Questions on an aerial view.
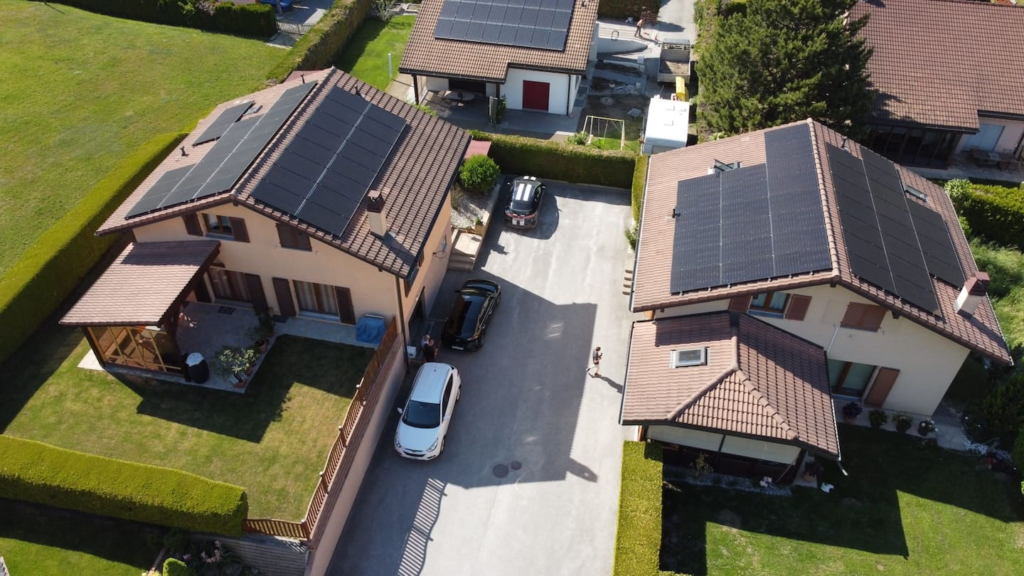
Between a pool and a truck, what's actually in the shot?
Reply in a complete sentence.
There is a truck in the scene.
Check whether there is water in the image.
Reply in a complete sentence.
No, there is no water in the image.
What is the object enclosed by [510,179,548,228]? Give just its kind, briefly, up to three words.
car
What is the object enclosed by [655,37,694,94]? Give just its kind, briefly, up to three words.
truck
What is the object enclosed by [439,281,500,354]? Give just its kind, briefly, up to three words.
car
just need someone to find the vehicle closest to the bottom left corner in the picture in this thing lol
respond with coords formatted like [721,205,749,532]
[394,364,461,463]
